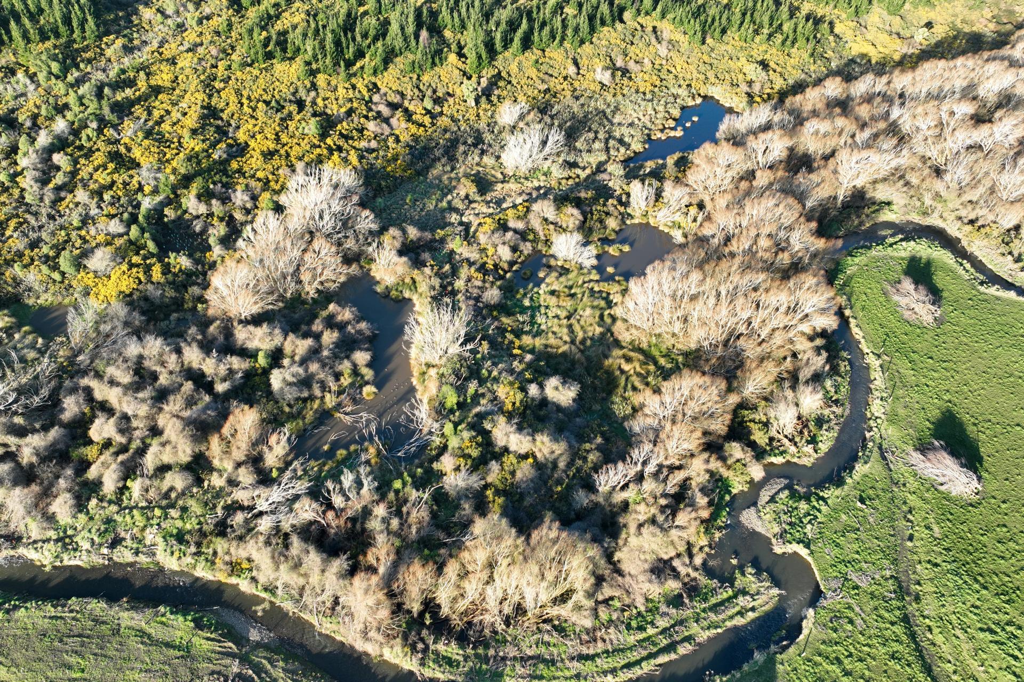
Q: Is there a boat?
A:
No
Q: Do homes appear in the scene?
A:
No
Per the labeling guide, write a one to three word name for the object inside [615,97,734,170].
pond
